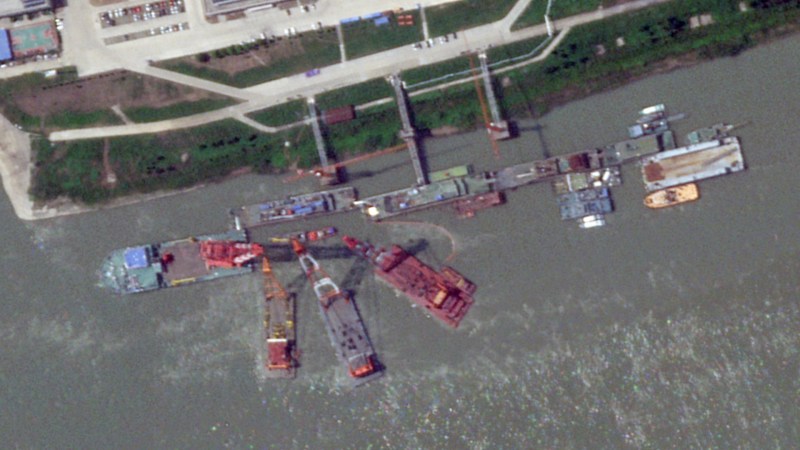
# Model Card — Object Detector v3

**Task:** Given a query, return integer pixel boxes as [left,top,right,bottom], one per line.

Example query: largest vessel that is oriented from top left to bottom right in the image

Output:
[341,236,474,326]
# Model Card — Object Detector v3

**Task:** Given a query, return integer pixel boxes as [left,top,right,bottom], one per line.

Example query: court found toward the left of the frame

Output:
[11,21,60,61]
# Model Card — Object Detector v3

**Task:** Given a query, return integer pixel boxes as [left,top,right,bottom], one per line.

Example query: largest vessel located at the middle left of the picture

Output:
[96,230,262,290]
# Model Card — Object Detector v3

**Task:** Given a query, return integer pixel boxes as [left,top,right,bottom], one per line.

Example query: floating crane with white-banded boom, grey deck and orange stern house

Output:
[292,239,381,381]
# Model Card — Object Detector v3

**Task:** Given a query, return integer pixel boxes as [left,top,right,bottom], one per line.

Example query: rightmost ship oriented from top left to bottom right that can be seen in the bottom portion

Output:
[441,266,476,295]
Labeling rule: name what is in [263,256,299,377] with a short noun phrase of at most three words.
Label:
crane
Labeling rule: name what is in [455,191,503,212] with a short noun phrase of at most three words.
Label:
ship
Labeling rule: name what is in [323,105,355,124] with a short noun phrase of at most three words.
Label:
building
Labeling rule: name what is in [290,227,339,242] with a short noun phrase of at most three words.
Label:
boat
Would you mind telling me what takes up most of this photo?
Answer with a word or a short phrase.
water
